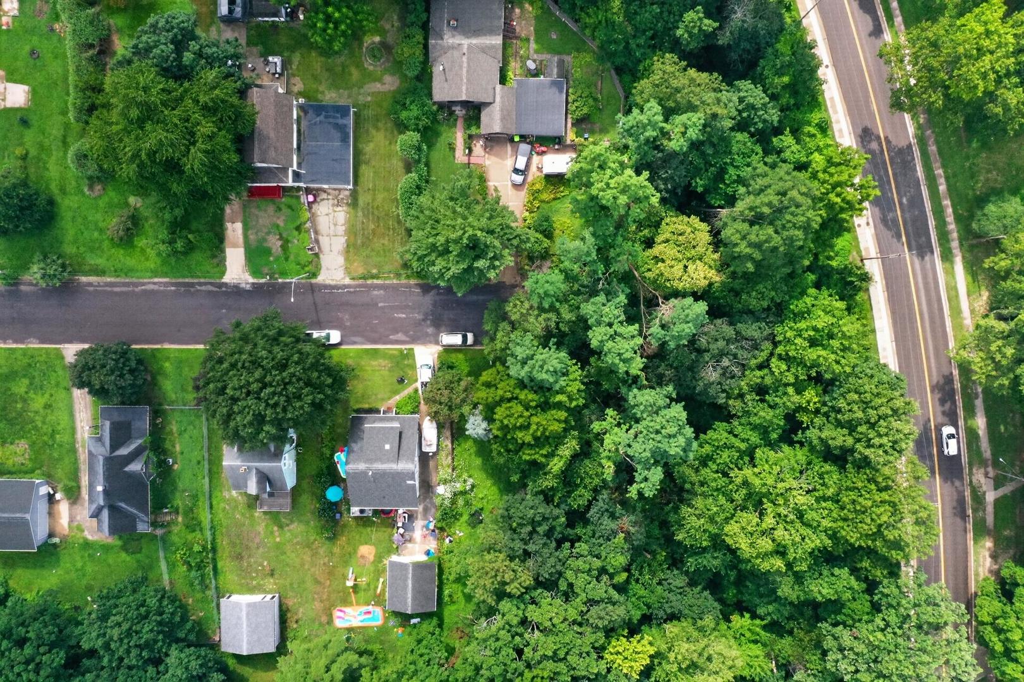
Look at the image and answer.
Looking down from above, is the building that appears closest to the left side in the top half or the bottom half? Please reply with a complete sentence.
It is in the bottom half that the building that appears closest to the left side appears.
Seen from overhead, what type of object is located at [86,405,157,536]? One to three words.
house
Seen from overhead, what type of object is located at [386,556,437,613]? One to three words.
building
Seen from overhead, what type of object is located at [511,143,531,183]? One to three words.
vehicle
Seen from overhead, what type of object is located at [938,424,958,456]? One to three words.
car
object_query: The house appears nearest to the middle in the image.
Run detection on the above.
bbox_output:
[346,414,421,510]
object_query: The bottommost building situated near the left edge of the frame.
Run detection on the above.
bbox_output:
[0,479,50,552]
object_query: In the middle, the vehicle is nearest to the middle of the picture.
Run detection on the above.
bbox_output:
[440,331,474,347]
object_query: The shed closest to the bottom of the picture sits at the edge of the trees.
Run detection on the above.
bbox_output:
[220,595,280,655]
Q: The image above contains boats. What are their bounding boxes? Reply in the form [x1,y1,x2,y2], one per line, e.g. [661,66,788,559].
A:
[423,418,437,457]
